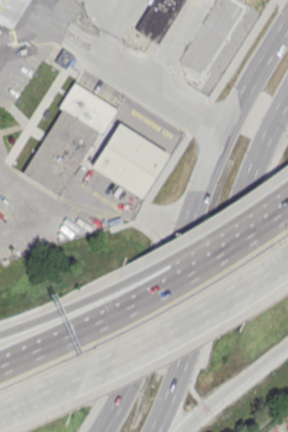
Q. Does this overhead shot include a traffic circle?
No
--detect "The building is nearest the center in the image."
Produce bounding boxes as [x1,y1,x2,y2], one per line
[92,122,169,200]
